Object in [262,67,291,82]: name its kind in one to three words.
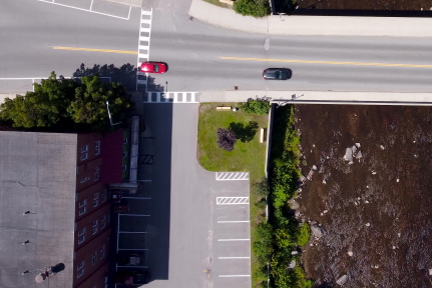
car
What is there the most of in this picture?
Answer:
paved ground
